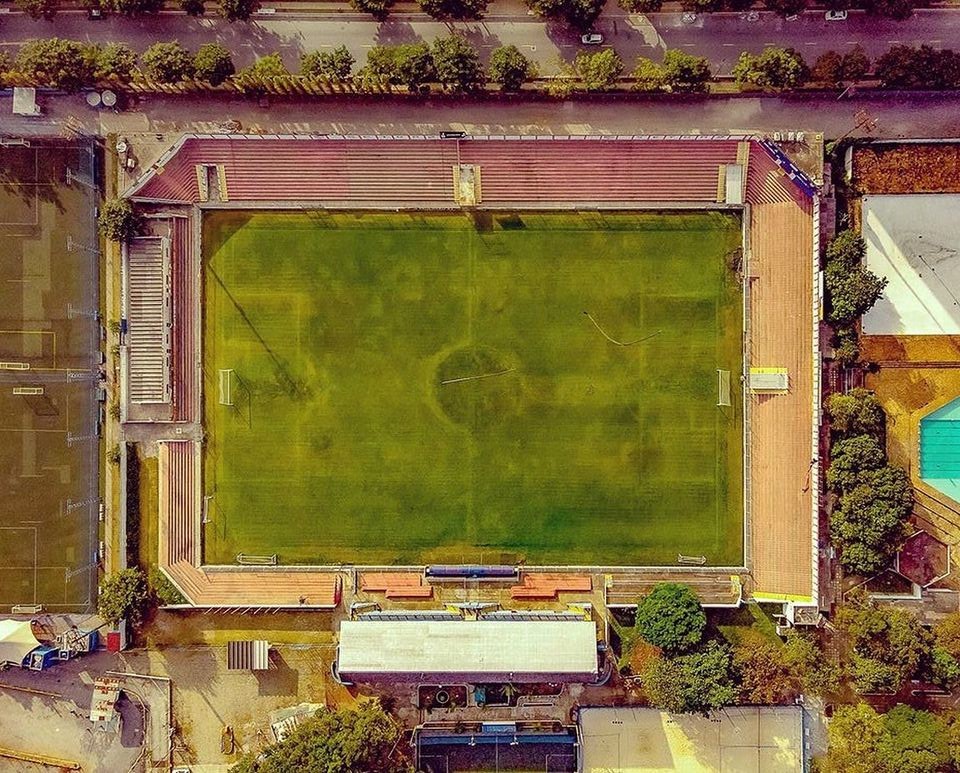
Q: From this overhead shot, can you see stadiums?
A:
Yes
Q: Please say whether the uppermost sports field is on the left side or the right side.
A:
left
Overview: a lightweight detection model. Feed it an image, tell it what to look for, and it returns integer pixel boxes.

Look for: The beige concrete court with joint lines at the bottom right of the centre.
[578,705,804,773]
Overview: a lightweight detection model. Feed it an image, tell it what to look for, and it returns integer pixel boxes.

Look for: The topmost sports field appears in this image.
[0,138,98,370]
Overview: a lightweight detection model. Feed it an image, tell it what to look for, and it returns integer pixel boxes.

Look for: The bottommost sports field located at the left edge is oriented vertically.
[0,366,98,614]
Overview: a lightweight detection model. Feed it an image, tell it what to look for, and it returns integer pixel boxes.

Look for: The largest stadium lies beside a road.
[124,134,820,614]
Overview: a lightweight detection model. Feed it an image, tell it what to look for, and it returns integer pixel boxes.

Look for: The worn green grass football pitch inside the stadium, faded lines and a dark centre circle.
[203,211,742,565]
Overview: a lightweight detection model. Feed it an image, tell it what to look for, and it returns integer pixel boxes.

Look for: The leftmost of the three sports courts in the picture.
[412,721,581,773]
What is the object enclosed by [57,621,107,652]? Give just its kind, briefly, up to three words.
trailer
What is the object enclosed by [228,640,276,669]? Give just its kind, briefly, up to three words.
shed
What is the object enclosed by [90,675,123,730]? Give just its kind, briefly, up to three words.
trailer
